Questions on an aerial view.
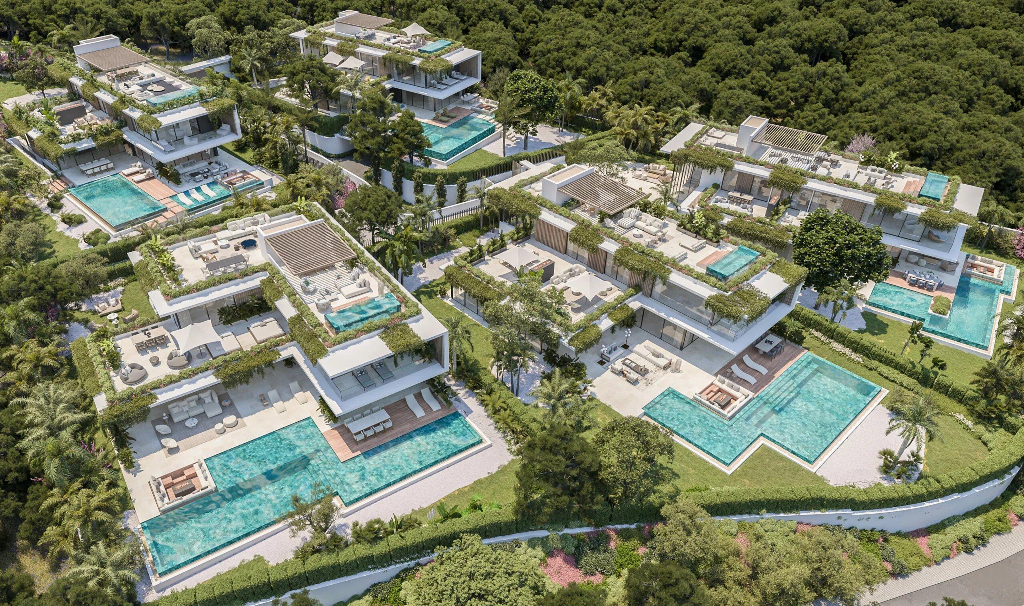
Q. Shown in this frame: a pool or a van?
pool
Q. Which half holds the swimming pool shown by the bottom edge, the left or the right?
left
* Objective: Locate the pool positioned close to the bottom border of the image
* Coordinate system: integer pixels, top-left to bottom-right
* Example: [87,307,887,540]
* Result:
[136,411,492,591]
